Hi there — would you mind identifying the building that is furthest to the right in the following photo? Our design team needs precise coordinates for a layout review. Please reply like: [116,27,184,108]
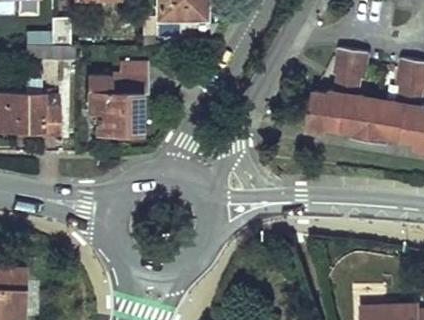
[398,57,424,98]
